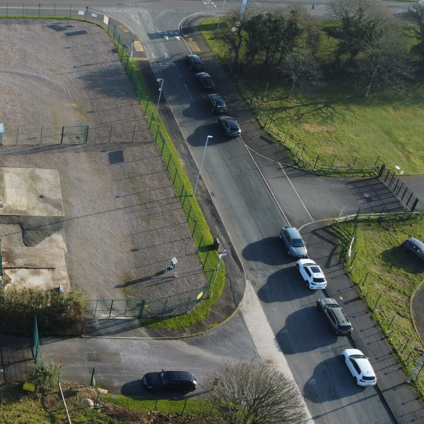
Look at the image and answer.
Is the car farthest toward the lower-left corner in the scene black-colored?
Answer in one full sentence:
Yes, black is the color of the car farthest toward the lower-left corner.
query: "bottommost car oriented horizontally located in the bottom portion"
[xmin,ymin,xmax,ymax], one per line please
[142,370,199,397]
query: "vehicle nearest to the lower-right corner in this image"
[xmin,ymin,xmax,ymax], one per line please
[340,350,379,391]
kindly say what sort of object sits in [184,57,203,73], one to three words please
car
